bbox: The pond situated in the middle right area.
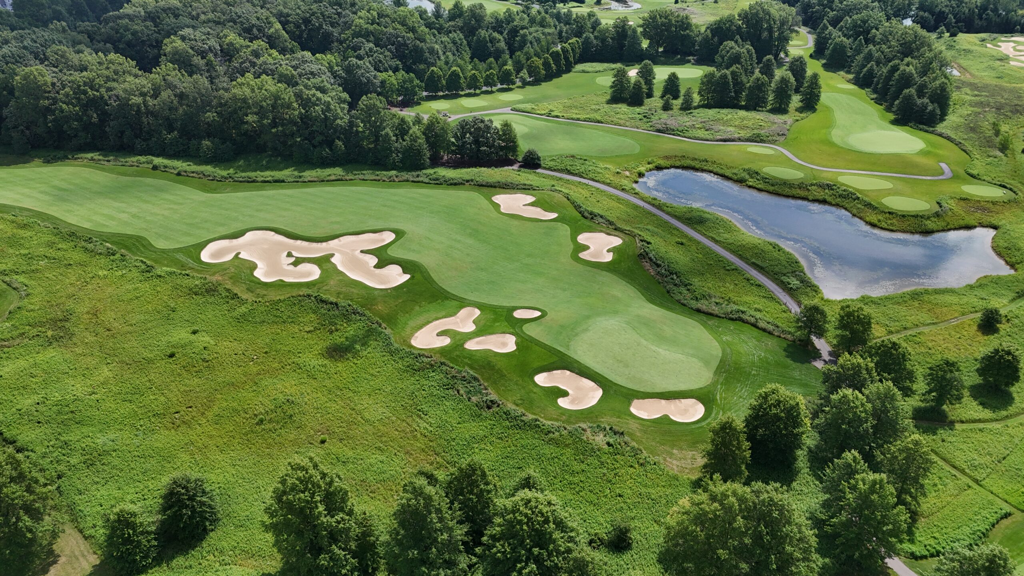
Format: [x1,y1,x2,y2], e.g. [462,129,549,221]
[636,168,1015,300]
